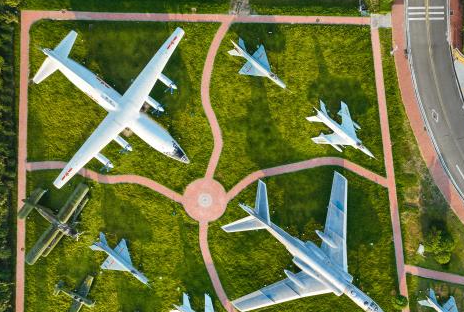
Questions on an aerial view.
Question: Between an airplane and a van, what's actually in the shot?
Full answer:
There is an airplane in the scene.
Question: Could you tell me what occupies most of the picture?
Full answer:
The largest share of the image is taken up by grass.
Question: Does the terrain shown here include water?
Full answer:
No, water can't be seen anywhere here.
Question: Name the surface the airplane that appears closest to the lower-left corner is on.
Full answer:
In this view, the airplane that appears closest to the lower-left corner is located on the grass.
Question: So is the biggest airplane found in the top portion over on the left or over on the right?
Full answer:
It is on the left.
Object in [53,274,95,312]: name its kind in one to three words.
airplane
